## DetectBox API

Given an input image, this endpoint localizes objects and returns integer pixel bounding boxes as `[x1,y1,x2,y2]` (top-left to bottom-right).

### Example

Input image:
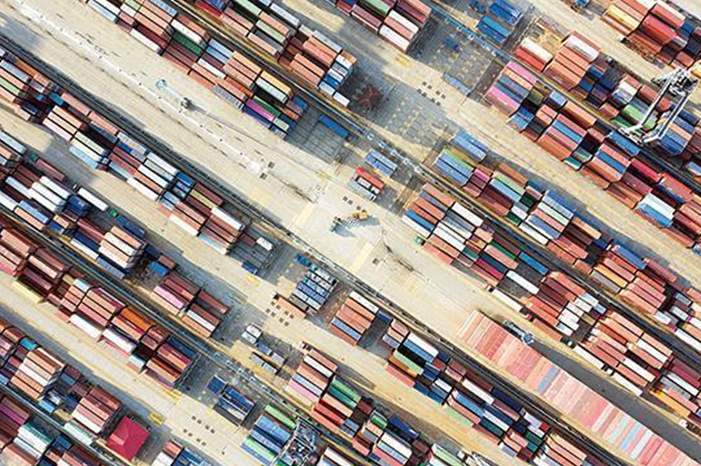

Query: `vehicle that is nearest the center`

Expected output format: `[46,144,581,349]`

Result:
[331,209,372,232]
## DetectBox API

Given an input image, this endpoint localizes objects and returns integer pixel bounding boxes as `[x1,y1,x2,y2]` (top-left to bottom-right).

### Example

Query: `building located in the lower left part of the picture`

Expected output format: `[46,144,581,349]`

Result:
[107,412,155,459]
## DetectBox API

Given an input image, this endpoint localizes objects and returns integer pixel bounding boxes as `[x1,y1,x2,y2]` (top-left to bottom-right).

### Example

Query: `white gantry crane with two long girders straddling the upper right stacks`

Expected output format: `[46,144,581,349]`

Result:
[618,55,701,148]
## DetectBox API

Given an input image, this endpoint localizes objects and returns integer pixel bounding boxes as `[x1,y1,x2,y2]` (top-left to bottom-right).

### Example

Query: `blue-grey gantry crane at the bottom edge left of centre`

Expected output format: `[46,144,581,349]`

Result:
[263,414,326,466]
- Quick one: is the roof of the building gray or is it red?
red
